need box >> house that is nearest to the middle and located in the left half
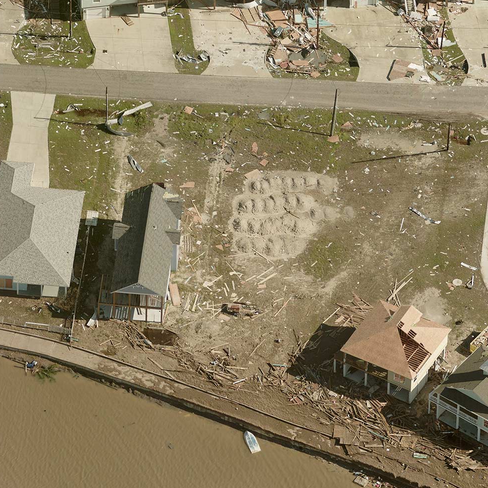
[99,178,184,325]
